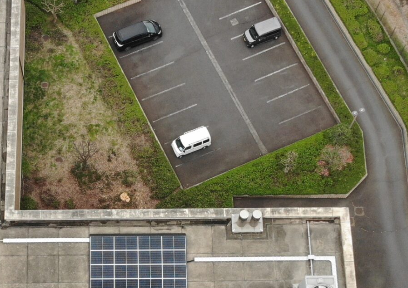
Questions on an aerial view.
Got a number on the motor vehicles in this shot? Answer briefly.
3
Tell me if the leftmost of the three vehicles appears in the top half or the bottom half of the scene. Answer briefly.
top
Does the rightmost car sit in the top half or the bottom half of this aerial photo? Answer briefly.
top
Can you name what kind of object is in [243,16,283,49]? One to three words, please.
car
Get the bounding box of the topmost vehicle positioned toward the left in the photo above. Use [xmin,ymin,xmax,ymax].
[113,22,164,54]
